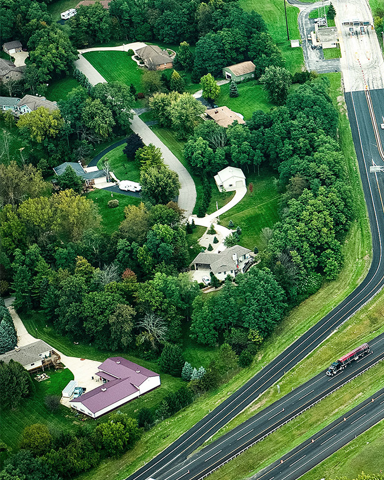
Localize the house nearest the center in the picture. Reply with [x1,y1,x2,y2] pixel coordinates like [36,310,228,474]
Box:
[193,249,256,276]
